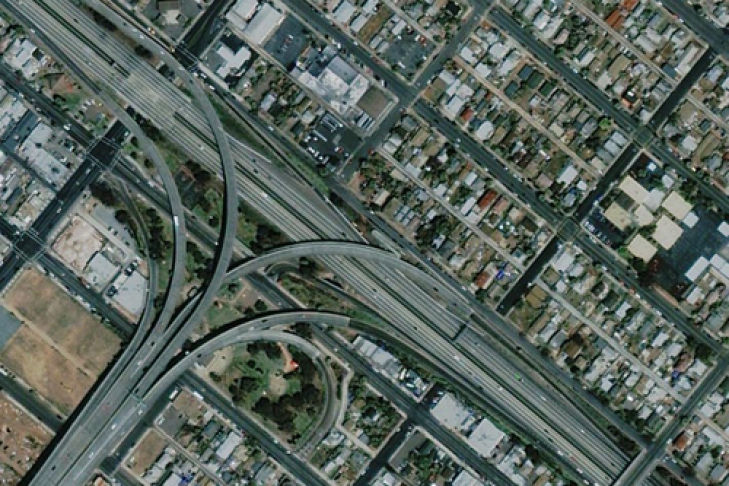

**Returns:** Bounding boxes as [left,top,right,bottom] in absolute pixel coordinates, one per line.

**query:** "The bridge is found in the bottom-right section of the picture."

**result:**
[609,416,687,486]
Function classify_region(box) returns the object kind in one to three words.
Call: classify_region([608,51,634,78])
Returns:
house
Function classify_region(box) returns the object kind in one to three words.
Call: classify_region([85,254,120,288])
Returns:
building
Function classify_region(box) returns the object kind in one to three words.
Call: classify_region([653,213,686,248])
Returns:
building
